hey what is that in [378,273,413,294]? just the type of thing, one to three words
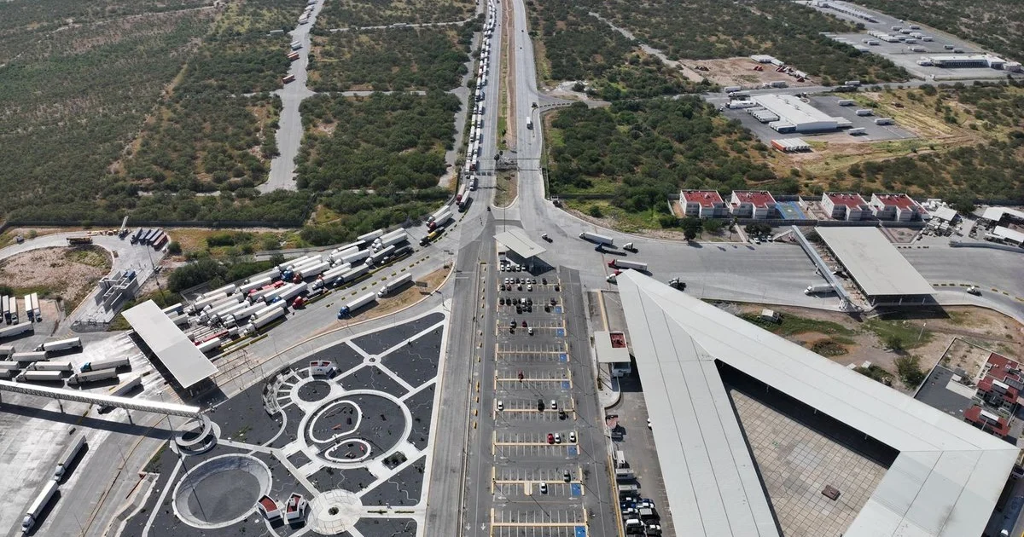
truck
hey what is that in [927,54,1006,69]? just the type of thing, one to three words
building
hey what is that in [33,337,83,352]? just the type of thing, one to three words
vehicle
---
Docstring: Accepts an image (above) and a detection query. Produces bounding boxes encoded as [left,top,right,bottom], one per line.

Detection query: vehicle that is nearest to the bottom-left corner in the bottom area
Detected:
[20,481,60,535]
